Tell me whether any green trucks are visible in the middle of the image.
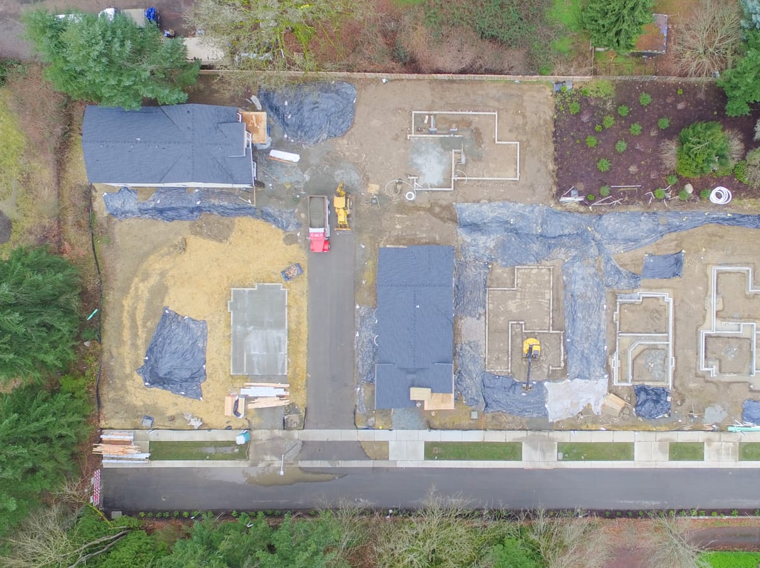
No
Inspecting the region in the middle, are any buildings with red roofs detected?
No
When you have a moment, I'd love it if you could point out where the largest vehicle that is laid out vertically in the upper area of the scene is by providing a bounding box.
[308,195,334,255]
